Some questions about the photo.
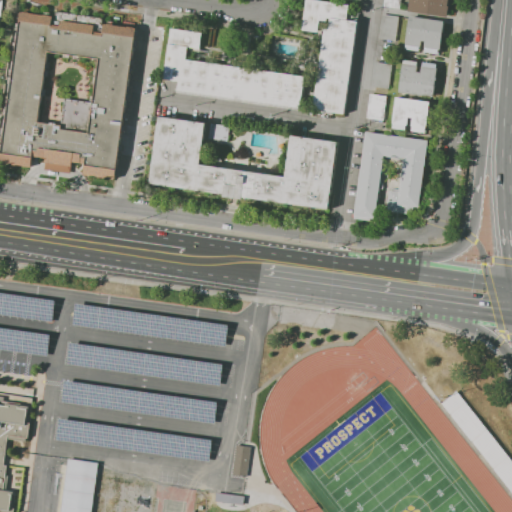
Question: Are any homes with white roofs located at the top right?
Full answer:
Yes, you'll find a home with a white roof at the top right.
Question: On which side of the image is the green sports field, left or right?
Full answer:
It is on the right.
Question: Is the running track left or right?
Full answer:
You can find the running track on the right side of the picture.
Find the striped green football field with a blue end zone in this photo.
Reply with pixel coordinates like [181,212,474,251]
[286,379,496,512]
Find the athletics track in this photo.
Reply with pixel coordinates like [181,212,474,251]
[258,328,512,512]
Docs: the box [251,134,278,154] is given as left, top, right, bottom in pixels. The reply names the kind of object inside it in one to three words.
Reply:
swimming pool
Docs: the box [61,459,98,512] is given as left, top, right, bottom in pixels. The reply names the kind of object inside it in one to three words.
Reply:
shed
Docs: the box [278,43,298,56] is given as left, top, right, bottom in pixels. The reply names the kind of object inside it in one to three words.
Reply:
swimming pool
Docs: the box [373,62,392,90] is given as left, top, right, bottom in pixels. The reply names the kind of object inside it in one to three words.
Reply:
building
